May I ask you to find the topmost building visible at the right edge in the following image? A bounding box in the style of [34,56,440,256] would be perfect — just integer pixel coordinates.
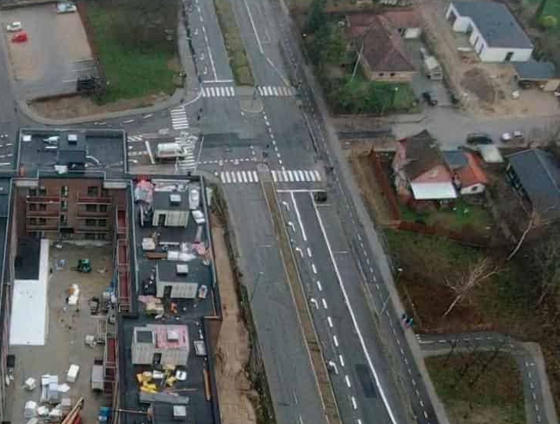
[440,1,533,66]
